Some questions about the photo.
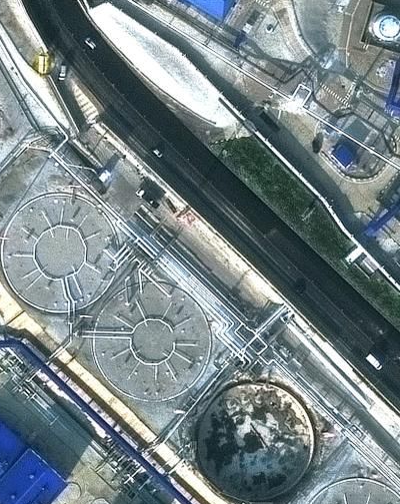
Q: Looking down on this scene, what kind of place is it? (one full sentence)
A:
What you see here is an industrial area.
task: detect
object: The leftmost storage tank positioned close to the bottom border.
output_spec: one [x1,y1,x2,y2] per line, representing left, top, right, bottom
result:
[197,382,315,499]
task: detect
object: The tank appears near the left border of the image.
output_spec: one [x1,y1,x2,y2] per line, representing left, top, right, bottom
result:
[1,193,120,314]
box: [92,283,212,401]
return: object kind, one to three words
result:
storage tank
